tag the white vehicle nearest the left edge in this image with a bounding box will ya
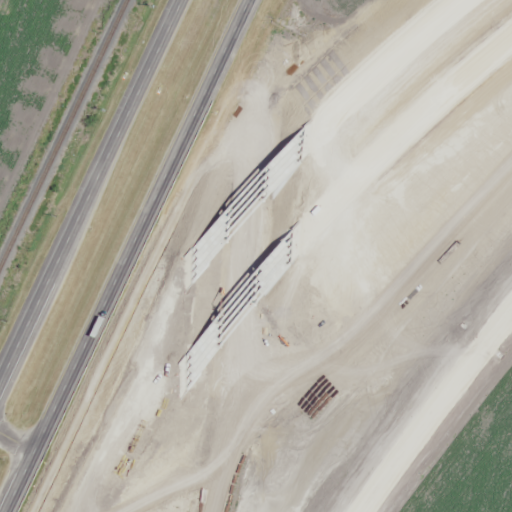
[90,308,106,338]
